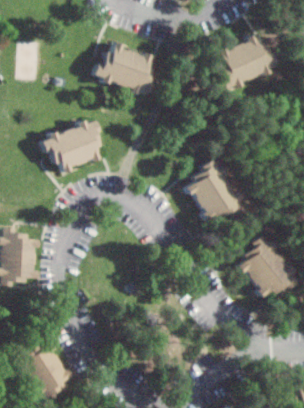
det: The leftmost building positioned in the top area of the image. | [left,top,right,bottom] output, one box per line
[42,121,105,170]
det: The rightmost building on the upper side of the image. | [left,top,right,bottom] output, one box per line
[220,38,274,89]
